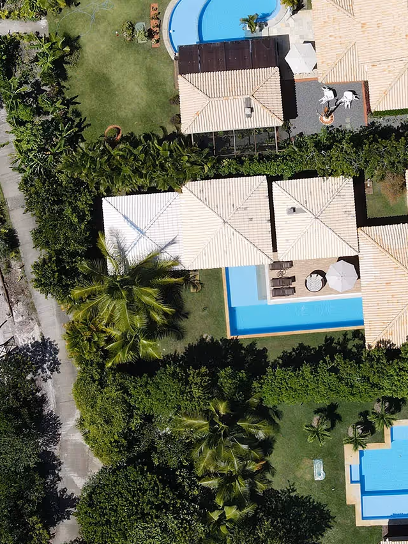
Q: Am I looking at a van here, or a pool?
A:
pool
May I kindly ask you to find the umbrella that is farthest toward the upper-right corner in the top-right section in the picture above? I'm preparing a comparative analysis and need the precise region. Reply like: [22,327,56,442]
[282,40,317,75]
